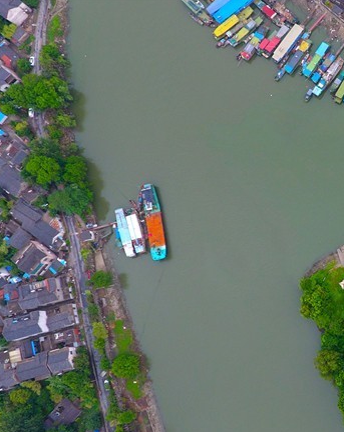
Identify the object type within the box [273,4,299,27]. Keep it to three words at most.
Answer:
boat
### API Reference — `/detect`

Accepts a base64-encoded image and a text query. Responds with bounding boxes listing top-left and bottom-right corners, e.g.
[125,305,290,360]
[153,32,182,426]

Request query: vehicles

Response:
[99,369,108,378]
[104,377,110,387]
[30,57,36,67]
[29,109,35,119]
